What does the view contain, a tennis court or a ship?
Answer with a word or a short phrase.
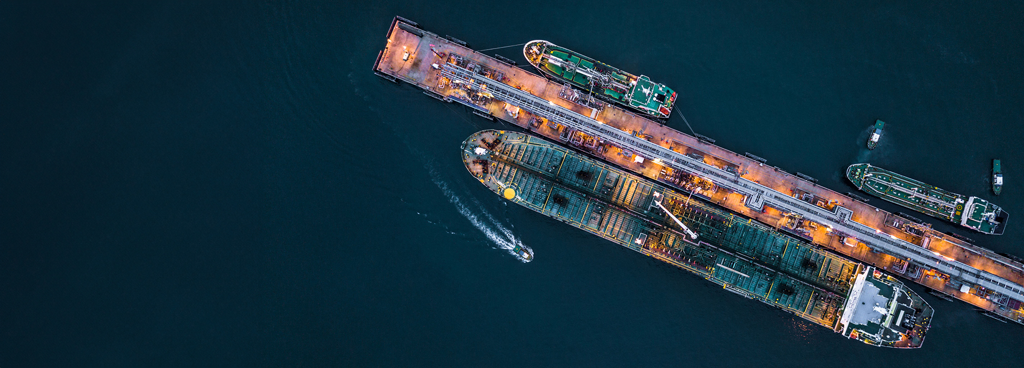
ship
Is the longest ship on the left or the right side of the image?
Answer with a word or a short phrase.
right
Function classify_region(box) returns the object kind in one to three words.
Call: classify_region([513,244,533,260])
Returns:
boat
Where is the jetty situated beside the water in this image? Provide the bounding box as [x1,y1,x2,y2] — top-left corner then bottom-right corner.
[374,16,1024,322]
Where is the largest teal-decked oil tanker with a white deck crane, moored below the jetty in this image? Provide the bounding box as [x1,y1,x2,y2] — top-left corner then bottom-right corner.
[460,130,936,346]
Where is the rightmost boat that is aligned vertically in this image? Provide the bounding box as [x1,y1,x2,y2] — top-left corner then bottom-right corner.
[992,159,1004,196]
